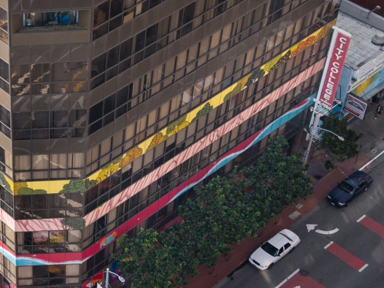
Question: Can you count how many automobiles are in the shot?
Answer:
2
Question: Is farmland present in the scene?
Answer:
No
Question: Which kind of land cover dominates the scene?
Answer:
buildings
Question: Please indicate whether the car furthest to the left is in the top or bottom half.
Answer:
bottom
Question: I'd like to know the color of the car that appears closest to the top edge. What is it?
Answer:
black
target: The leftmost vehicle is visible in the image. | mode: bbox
[251,228,305,273]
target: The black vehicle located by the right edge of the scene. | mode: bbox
[329,170,379,211]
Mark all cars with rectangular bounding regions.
[251,228,305,273]
[329,170,379,211]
